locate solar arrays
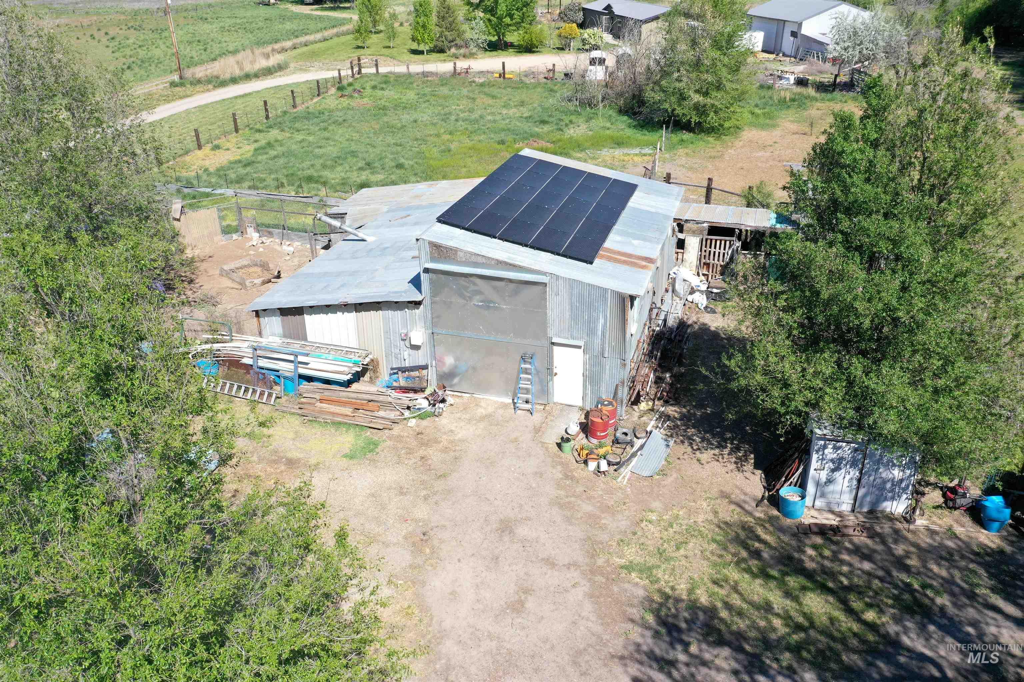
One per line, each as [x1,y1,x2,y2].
[436,153,638,266]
